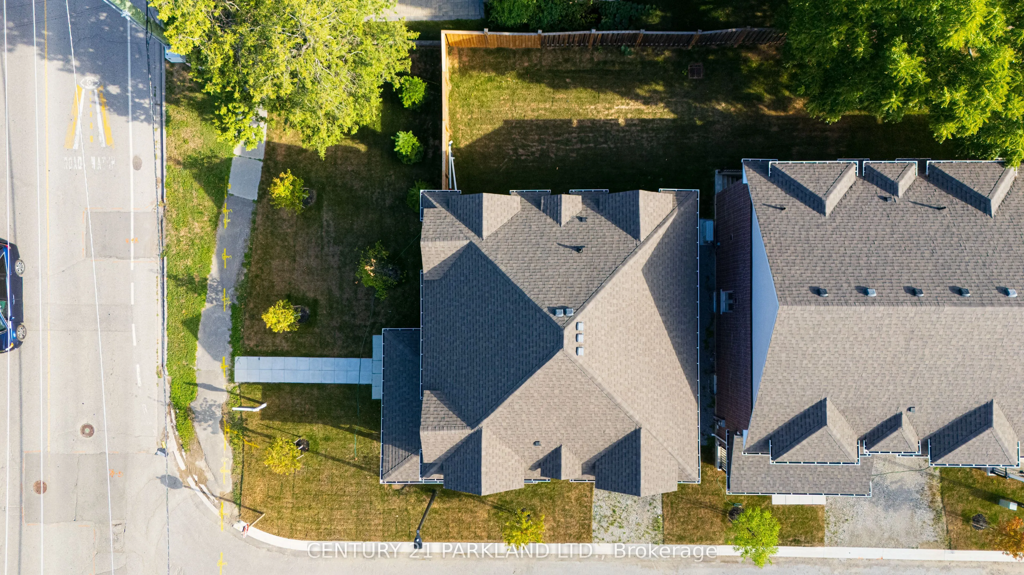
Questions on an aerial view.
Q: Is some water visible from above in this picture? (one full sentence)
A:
No, no water is visible.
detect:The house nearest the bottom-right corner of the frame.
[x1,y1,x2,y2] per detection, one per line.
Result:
[705,159,1024,495]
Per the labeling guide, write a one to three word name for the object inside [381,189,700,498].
house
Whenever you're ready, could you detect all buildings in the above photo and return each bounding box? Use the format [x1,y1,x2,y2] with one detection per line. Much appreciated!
[381,189,700,498]
[705,159,1024,495]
